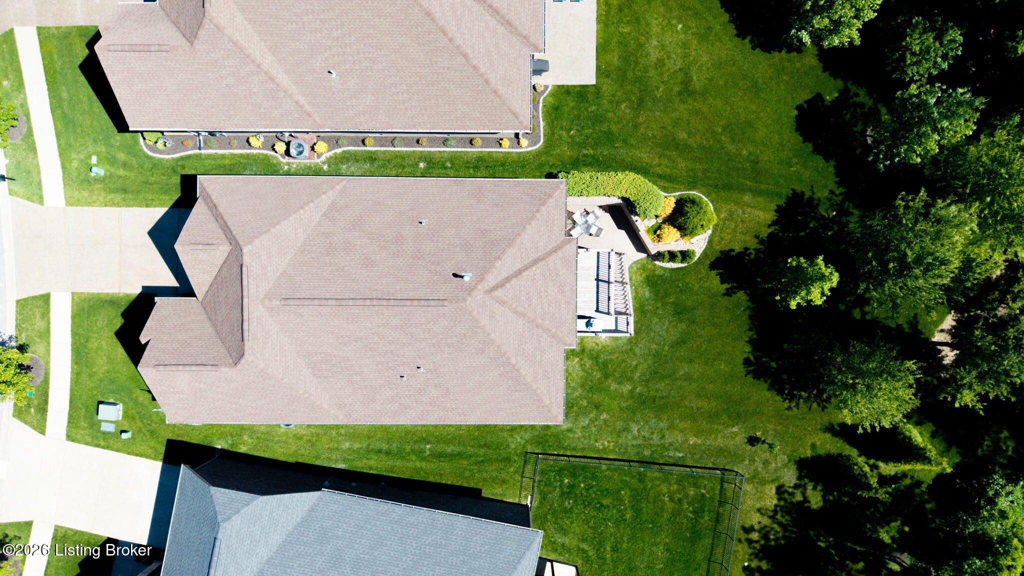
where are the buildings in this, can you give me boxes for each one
[138,443,543,576]
[137,176,577,424]
[99,0,541,136]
